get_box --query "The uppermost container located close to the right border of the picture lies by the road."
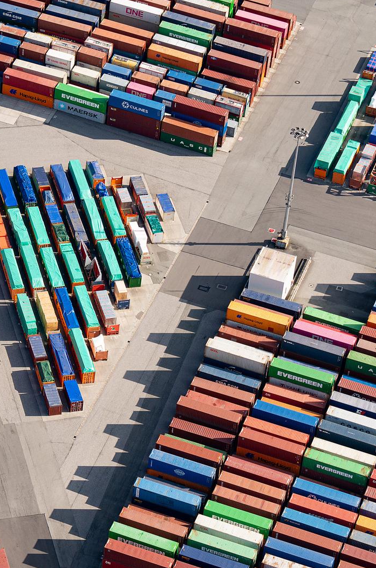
[346,73,372,114]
